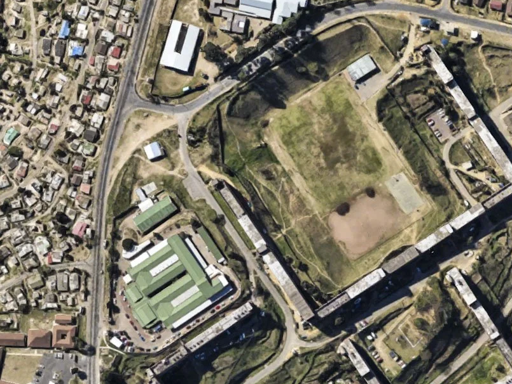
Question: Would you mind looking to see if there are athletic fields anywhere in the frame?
Yes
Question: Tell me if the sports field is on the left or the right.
right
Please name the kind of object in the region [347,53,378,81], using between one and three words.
building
